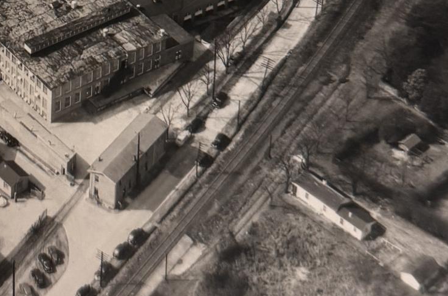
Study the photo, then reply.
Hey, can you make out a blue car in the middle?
No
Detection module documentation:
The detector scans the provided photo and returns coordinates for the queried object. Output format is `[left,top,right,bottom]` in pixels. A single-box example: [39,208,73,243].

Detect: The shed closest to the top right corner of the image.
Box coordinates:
[392,132,421,158]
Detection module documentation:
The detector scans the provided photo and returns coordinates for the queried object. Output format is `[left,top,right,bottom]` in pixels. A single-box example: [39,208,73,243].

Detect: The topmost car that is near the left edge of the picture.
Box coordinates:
[0,128,20,146]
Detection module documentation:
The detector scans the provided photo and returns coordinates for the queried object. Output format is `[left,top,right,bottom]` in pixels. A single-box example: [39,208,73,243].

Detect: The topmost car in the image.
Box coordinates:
[208,89,231,106]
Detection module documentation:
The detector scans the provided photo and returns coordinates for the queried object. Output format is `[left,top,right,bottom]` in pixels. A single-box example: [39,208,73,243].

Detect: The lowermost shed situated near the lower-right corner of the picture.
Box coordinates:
[395,252,442,294]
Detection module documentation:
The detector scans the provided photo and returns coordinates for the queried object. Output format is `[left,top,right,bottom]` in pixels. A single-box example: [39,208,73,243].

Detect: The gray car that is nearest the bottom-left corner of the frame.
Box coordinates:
[17,281,38,296]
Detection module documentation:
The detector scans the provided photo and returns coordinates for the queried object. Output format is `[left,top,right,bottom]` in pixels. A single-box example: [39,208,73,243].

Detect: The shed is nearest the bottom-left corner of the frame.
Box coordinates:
[0,162,30,193]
